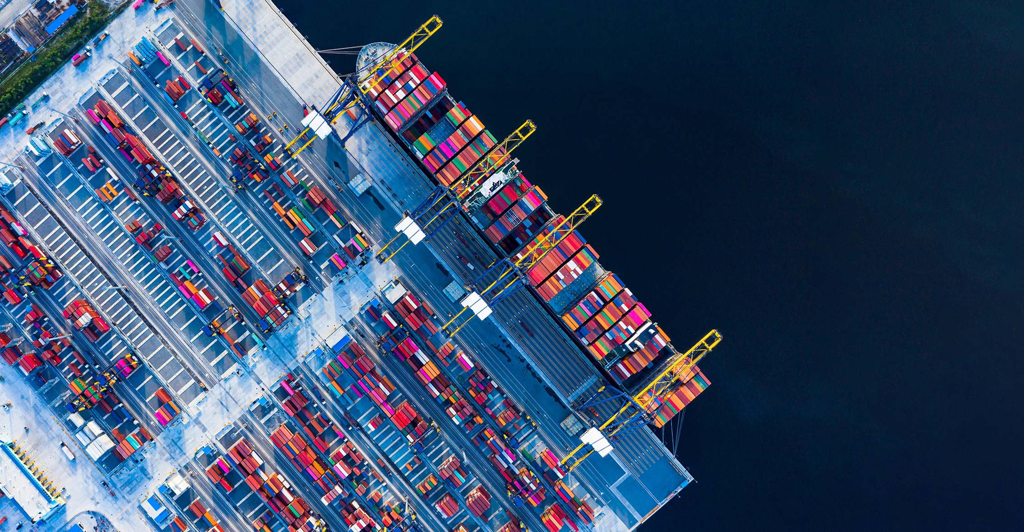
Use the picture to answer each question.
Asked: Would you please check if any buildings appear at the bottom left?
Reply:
Yes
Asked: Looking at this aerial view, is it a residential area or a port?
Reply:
port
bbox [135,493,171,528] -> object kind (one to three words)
building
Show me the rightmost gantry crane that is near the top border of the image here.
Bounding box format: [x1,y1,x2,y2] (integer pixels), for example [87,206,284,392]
[280,16,441,161]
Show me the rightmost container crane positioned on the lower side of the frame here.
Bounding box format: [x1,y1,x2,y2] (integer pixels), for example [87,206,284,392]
[558,332,720,476]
